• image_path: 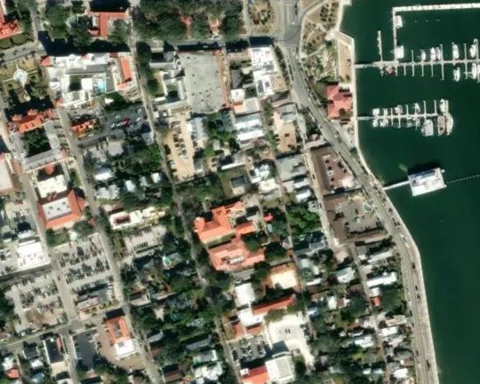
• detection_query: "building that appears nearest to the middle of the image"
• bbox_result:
[229,174,250,195]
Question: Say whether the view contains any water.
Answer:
Yes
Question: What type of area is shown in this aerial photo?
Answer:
residential area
